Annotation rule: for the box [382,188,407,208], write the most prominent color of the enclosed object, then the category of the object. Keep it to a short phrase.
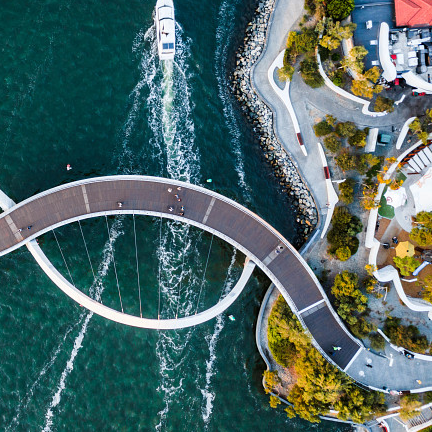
white tent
